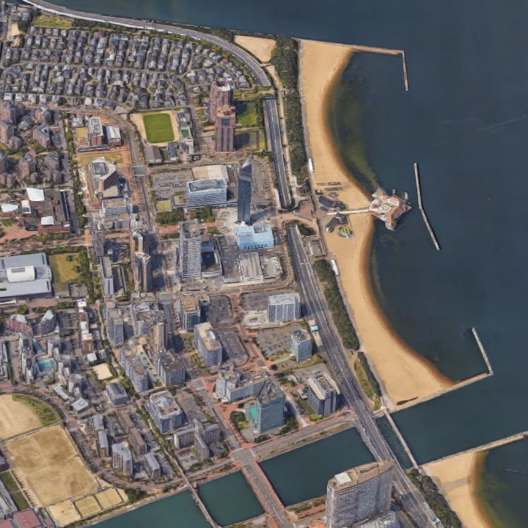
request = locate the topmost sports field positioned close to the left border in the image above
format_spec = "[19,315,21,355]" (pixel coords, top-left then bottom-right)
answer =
[0,394,61,438]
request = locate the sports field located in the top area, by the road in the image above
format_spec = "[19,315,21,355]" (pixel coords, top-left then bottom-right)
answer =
[131,110,180,145]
